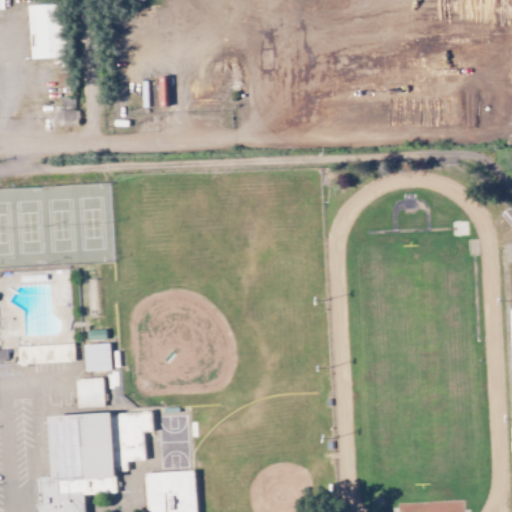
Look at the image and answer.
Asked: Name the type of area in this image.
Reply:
sports ground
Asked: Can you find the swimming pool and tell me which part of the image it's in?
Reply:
left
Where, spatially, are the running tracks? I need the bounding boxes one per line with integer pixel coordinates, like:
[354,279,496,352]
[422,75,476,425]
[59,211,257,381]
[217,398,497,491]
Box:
[329,172,510,512]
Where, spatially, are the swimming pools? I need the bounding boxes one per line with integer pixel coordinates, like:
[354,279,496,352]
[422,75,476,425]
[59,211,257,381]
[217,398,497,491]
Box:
[0,266,74,352]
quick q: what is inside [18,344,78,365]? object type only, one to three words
building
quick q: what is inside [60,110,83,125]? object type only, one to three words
house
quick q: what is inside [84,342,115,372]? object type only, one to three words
building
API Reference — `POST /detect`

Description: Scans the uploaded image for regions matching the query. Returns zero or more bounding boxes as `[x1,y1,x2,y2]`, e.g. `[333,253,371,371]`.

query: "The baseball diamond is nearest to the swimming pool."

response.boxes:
[131,288,238,397]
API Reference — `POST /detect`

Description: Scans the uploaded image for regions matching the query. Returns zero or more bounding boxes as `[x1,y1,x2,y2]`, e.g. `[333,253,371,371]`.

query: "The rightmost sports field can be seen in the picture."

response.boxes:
[345,188,492,512]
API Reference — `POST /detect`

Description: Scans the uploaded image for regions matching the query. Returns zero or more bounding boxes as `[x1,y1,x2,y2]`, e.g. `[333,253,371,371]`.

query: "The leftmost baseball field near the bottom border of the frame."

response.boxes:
[252,463,315,512]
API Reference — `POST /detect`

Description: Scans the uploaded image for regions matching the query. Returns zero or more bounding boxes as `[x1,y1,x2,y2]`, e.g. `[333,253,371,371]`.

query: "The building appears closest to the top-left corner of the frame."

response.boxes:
[28,4,66,60]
